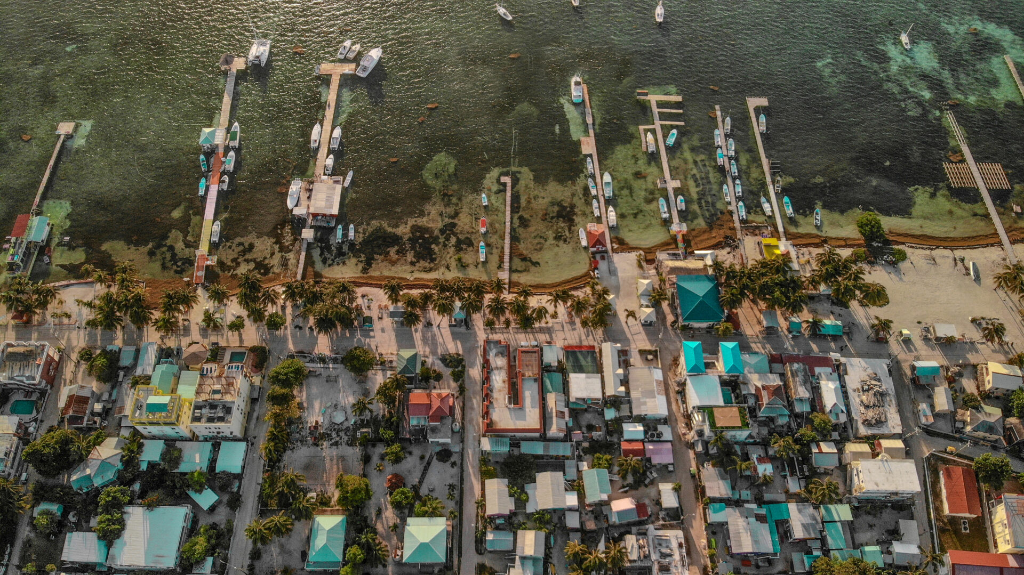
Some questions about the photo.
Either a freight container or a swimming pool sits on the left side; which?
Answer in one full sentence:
There is a swimming pool on the left side.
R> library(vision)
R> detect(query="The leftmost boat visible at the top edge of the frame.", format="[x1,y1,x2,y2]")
[246,12,272,67]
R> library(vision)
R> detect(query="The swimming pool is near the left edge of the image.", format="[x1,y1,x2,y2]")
[4,393,40,421]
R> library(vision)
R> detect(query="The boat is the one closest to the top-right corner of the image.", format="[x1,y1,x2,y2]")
[901,20,916,51]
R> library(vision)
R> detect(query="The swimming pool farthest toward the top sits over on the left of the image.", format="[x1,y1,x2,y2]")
[223,350,249,363]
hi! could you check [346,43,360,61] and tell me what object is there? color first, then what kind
white boat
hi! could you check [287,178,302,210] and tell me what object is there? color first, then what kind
white boat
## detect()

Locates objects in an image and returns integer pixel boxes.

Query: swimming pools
[4,393,40,421]
[223,350,249,363]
